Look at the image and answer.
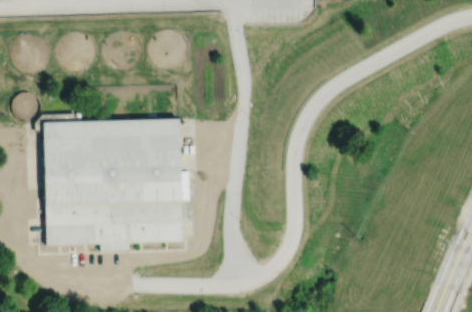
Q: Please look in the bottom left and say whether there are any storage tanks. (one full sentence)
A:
No, no storage tank appears in the bottom left.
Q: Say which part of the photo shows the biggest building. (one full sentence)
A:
You can find the biggest building in the left area of the picture.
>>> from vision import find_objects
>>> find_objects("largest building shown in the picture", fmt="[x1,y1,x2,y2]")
[44,117,183,252]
